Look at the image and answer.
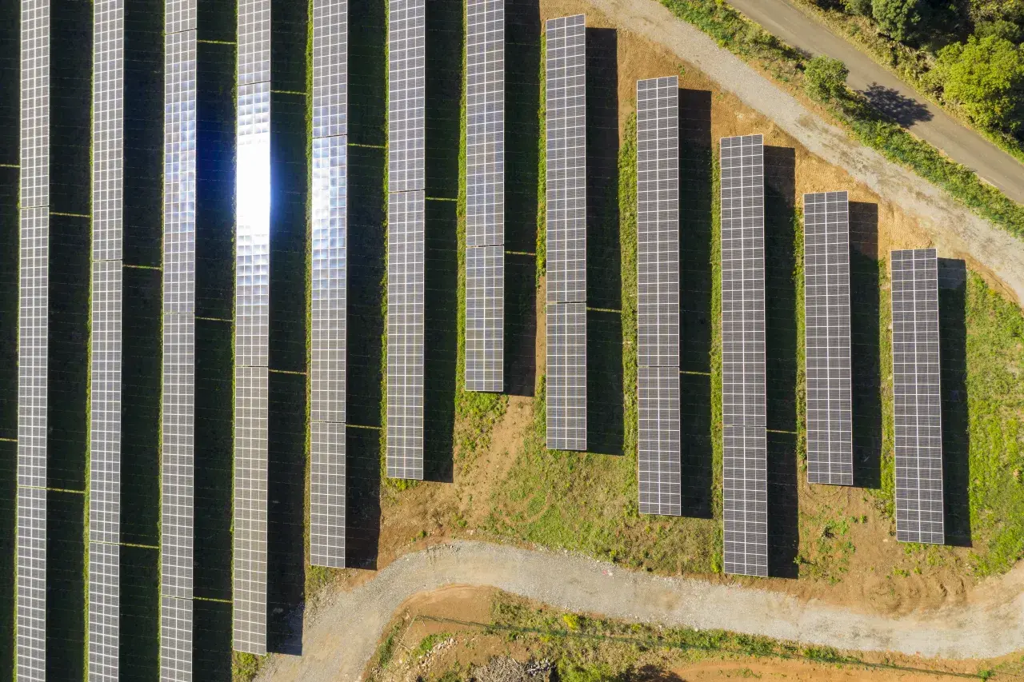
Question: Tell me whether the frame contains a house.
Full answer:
No, there is no house in the image.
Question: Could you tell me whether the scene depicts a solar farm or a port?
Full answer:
The area seen from above is a solar farm.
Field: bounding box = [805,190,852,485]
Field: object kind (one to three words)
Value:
solar array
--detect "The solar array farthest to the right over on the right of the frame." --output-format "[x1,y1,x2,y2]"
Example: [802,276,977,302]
[893,248,942,545]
